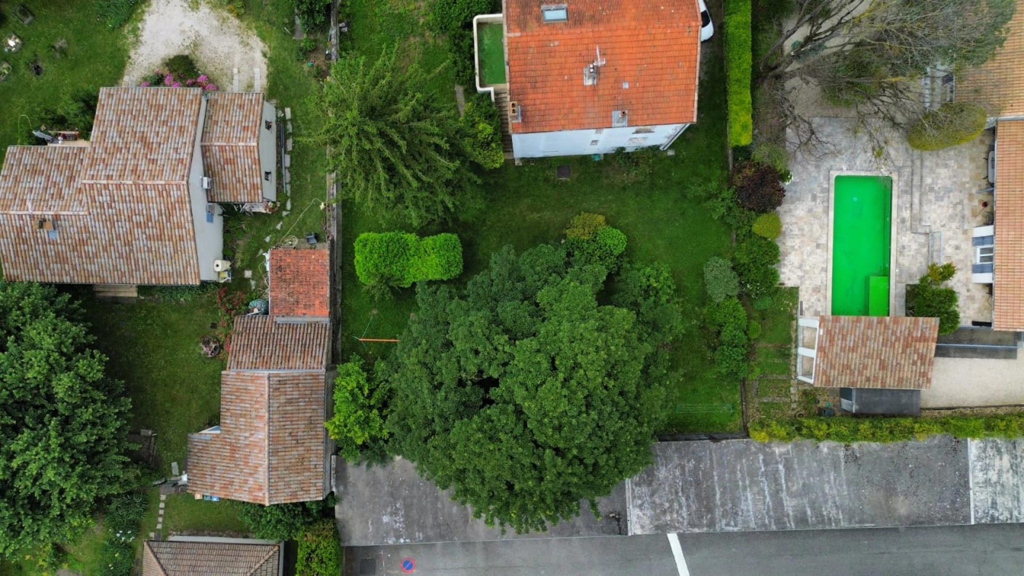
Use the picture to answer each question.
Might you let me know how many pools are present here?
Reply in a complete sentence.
Only 1 pool is visible.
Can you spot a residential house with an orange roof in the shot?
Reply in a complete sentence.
Yes, this view includes a residential house with an orange roof.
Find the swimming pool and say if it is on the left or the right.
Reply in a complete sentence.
It is on the right.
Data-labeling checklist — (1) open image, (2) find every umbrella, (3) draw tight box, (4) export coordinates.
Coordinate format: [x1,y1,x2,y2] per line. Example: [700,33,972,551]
[251,298,268,315]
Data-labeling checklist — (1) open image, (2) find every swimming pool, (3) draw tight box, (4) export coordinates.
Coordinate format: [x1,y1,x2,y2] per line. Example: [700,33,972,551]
[828,171,898,317]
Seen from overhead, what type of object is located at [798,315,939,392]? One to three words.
building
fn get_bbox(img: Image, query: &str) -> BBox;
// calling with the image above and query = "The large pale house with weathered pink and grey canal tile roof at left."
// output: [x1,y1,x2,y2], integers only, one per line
[0,85,216,299]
